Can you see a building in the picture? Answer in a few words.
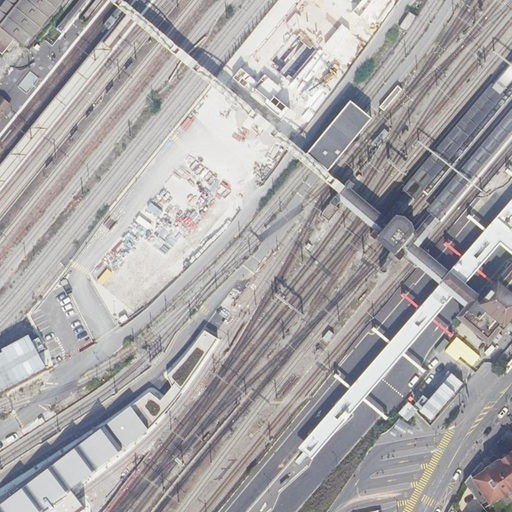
Yes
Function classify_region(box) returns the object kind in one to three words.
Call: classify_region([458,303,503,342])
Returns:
house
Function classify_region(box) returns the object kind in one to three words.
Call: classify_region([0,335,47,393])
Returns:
building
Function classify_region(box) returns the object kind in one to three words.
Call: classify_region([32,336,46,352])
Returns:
vehicle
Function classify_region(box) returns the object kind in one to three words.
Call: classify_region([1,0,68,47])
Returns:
building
